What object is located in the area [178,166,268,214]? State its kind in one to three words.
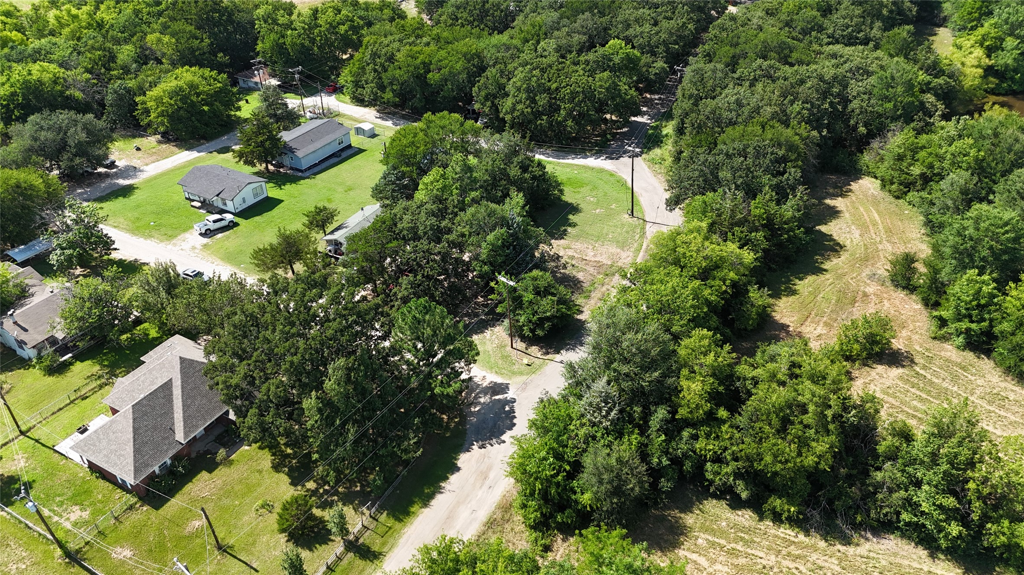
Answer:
house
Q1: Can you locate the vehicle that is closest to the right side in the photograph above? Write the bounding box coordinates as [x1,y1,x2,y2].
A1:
[471,116,492,128]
